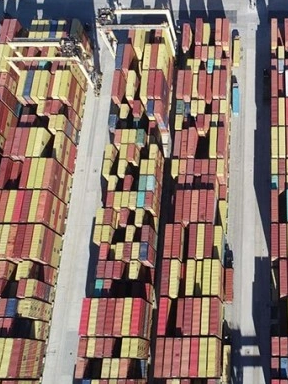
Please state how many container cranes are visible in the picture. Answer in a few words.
two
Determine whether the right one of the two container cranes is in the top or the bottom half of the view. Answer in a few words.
top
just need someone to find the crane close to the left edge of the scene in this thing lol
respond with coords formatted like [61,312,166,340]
[2,31,100,96]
